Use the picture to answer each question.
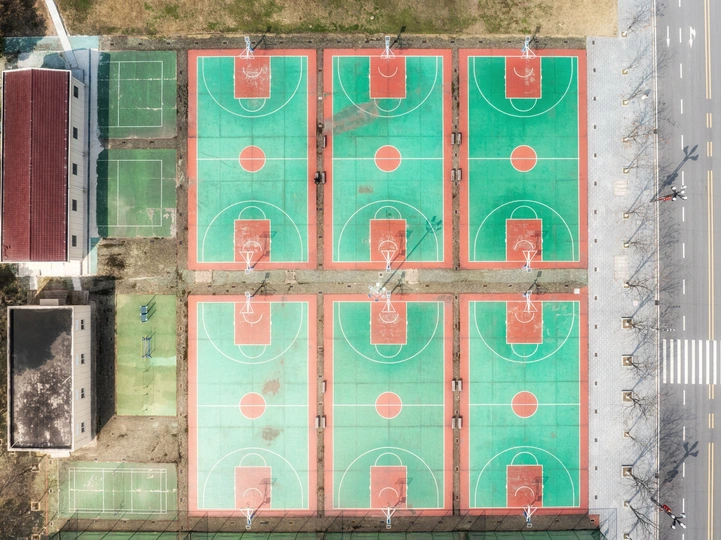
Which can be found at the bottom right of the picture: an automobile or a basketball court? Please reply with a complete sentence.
The one visible at the bottom right of the picture is a basketball court.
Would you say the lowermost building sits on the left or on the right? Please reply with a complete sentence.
The lowermost building sits on the left side.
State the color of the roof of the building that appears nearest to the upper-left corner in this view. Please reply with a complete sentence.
The roof over the building that appears nearest to the upper-left corner appears red.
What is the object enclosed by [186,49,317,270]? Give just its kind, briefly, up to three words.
basketball court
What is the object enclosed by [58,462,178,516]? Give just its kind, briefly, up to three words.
sports court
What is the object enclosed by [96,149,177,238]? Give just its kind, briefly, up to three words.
sports court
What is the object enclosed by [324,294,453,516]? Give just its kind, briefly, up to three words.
basketball court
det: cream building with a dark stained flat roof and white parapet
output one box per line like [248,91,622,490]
[8,296,92,451]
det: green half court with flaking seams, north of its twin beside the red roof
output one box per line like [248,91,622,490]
[96,51,177,139]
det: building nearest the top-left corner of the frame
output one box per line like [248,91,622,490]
[1,65,86,263]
